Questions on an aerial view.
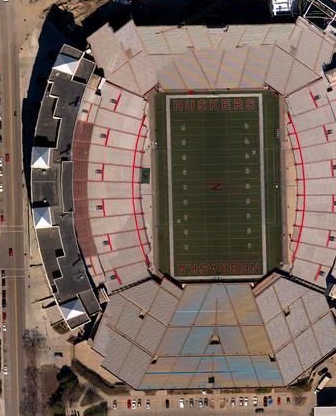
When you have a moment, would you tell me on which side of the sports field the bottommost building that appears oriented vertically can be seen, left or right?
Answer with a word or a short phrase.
on its left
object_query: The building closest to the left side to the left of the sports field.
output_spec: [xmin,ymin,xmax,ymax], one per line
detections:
[29,44,104,330]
